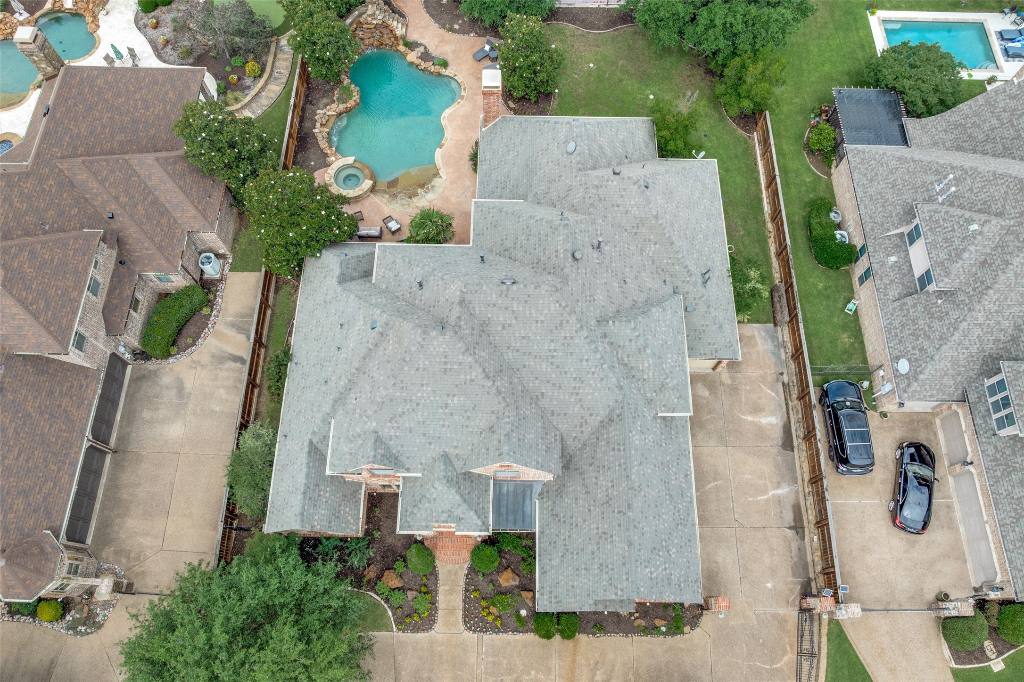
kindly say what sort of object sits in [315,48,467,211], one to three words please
swimming pool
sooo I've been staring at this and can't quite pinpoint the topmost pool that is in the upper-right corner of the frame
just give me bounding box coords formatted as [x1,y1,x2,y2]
[877,16,1005,72]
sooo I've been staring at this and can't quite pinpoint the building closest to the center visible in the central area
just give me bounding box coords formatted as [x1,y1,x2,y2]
[263,65,743,615]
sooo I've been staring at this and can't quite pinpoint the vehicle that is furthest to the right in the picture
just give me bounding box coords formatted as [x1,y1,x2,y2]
[888,436,944,536]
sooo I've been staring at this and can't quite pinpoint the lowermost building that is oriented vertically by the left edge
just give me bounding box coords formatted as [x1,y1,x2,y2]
[0,18,242,603]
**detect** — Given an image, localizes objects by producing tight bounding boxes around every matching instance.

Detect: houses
[834,57,1024,602]
[0,18,242,603]
[263,65,743,615]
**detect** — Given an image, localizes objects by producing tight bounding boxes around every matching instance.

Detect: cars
[819,379,880,476]
[888,436,944,536]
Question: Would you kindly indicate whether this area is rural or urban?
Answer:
urban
